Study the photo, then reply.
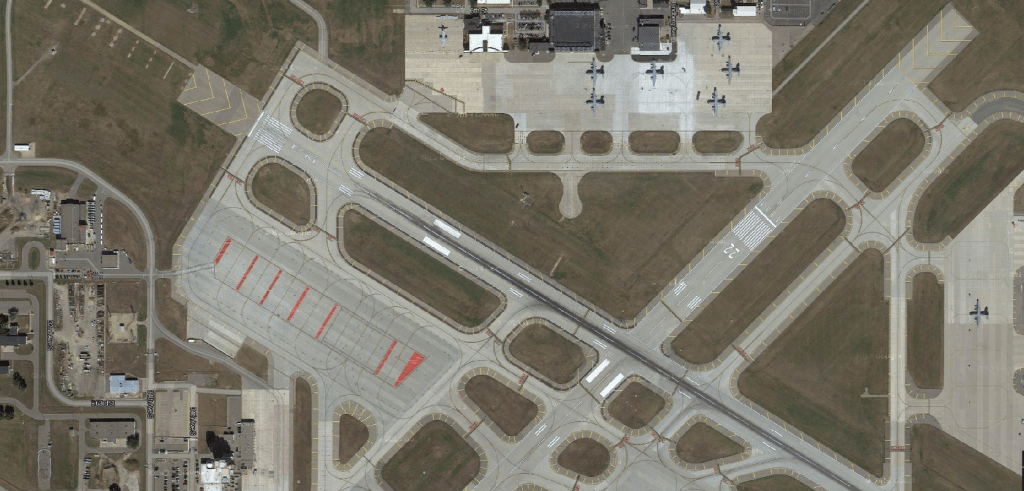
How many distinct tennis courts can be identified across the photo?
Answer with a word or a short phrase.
0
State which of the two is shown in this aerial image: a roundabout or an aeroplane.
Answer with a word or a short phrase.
aeroplane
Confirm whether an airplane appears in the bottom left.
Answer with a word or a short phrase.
No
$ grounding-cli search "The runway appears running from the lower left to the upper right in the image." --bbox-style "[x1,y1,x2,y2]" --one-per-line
[471,65,917,491]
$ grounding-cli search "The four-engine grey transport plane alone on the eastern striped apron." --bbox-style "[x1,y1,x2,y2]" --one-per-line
[971,299,990,326]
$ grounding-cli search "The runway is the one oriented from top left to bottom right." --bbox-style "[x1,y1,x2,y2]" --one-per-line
[247,110,885,491]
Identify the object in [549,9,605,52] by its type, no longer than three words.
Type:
hangar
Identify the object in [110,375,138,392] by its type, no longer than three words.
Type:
building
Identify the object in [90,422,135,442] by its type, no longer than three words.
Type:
building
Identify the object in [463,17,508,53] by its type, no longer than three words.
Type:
hangar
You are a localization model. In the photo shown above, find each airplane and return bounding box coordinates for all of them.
[708,87,727,114]
[646,58,666,85]
[721,56,741,83]
[713,25,732,52]
[586,58,605,85]
[971,299,990,326]
[586,88,605,115]
[438,25,449,47]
